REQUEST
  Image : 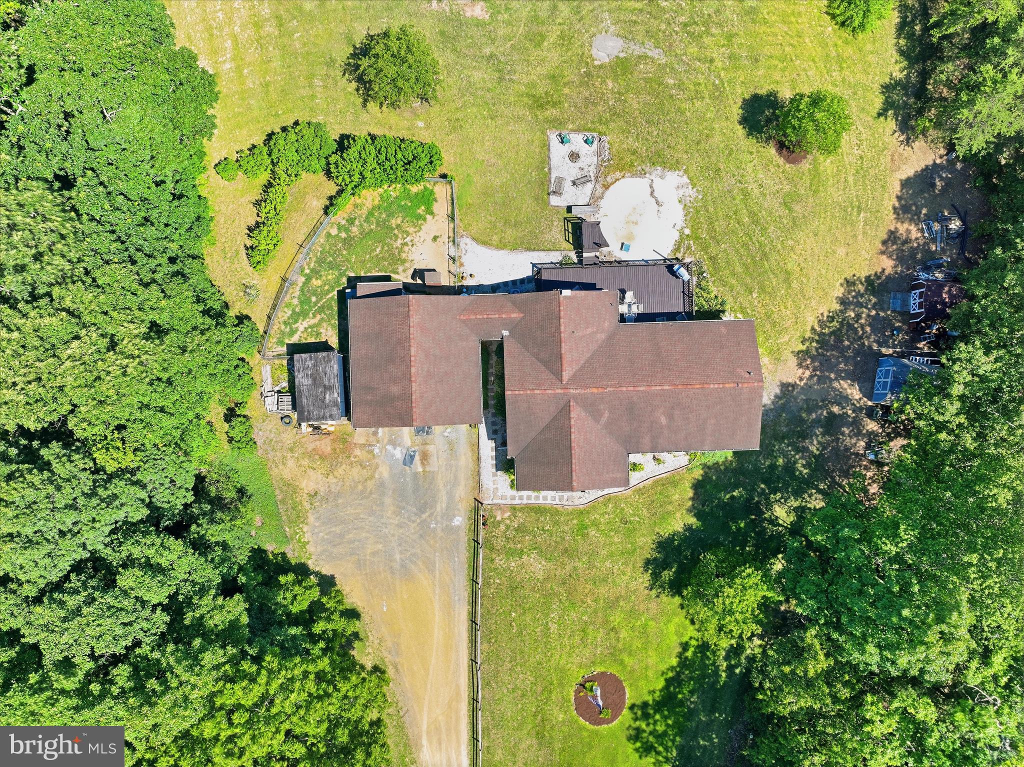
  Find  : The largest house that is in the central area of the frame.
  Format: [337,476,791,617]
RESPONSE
[346,281,765,492]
